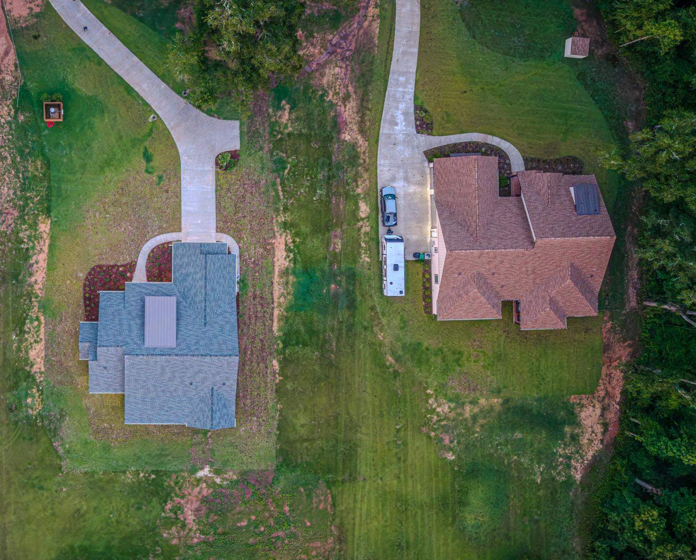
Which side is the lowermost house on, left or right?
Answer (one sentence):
The lowermost house appears in the left half of the scene.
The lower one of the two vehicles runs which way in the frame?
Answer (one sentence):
The lower one of the two vehicles is oriented vertically.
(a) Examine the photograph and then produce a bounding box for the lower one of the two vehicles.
[381,228,404,297]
